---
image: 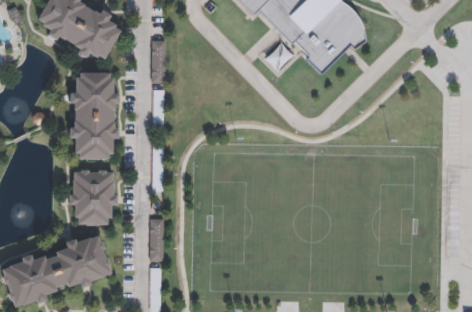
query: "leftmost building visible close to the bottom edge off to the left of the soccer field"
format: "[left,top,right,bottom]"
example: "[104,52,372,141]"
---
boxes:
[6,239,112,304]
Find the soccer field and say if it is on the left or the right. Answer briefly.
right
